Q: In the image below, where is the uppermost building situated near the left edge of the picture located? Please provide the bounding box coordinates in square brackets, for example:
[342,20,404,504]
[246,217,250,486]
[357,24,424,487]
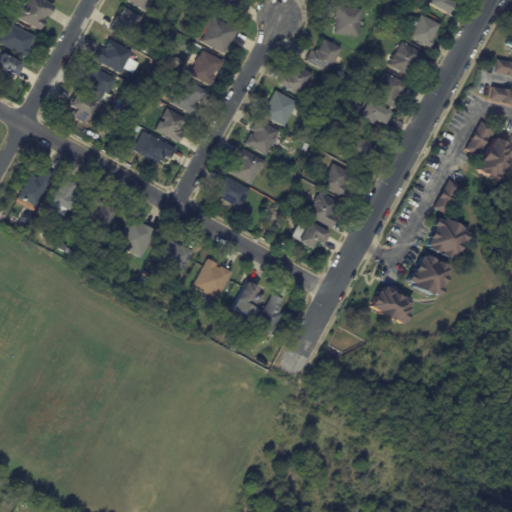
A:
[18,0,54,31]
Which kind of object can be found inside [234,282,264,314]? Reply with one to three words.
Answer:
house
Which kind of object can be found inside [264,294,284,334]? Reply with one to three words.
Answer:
house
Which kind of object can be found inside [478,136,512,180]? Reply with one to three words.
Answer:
building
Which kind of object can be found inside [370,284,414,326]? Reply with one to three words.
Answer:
building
